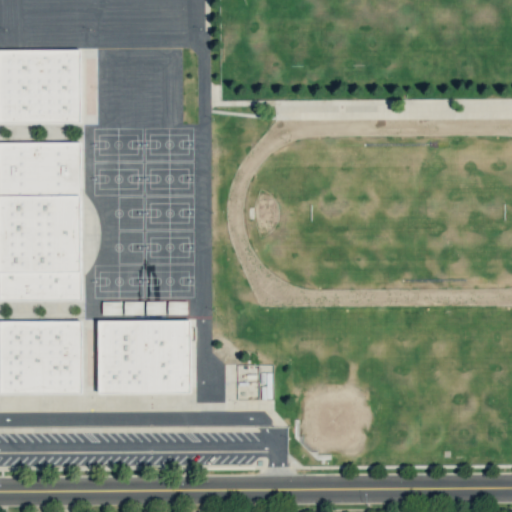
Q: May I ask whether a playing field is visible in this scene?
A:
Yes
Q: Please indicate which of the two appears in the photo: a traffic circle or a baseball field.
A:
baseball field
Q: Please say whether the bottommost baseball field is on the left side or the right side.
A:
right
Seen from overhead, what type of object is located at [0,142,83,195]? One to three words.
building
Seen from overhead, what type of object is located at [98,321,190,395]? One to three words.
building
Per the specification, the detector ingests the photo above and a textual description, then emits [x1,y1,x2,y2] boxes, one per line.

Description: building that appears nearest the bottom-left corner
[0,321,84,394]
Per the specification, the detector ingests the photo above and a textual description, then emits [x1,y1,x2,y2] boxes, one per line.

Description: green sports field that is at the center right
[246,136,512,290]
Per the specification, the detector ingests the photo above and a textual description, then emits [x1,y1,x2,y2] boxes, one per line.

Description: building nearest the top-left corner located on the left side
[0,49,82,122]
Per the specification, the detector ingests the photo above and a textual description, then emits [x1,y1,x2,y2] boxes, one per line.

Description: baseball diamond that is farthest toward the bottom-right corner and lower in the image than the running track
[295,384,373,464]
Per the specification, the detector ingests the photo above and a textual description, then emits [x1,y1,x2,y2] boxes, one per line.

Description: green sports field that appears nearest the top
[222,0,512,78]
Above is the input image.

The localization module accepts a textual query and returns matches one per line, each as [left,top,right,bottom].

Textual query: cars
[208,456,216,464]
[194,454,202,462]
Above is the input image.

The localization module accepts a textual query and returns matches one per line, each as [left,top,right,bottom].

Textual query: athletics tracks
[228,120,512,306]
